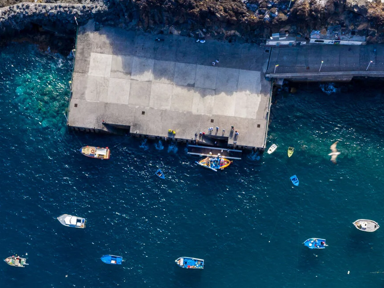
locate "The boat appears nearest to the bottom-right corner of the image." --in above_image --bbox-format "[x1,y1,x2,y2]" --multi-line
[353,218,383,231]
